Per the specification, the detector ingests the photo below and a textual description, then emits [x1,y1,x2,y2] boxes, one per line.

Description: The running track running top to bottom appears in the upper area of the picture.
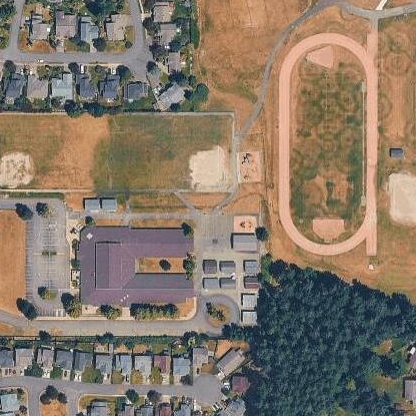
[279,32,378,255]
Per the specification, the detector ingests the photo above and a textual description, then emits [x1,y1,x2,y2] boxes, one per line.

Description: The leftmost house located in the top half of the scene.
[4,74,25,102]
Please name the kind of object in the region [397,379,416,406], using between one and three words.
house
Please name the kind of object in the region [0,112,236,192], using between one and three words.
sports field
